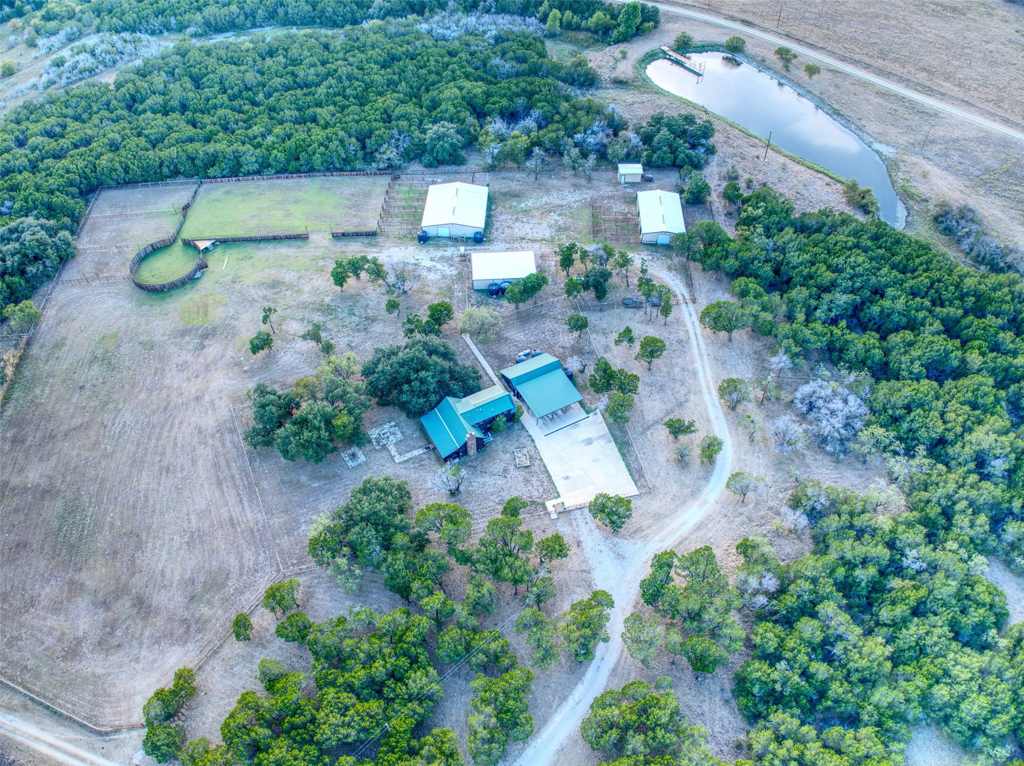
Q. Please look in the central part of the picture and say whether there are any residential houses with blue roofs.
Yes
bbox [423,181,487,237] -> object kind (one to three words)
barn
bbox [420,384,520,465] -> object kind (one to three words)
house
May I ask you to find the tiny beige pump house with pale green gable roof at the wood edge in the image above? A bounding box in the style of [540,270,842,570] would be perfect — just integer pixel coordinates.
[618,164,643,184]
